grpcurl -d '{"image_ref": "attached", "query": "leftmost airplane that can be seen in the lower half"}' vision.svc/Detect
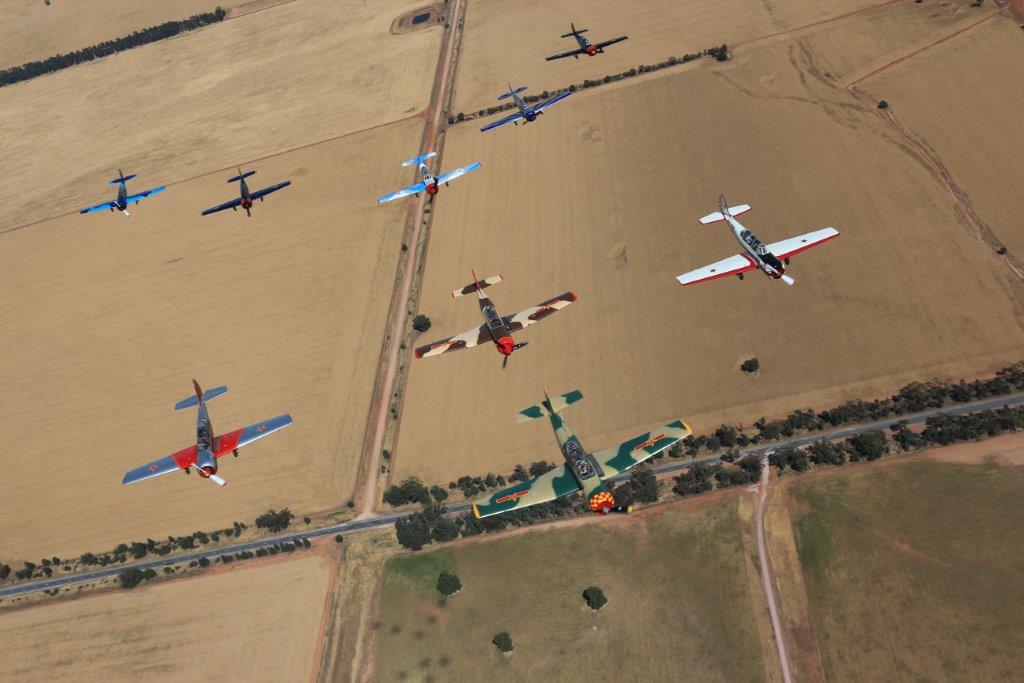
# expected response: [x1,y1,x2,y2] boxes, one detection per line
[121,376,291,485]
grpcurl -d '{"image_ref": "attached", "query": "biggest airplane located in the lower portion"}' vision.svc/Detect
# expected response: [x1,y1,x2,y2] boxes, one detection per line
[473,381,692,520]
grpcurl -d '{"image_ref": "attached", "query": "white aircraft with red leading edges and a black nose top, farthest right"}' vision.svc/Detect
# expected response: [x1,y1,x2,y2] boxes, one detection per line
[677,192,841,285]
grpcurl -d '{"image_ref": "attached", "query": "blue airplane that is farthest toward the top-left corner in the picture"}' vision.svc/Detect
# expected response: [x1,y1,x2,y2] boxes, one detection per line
[80,168,165,215]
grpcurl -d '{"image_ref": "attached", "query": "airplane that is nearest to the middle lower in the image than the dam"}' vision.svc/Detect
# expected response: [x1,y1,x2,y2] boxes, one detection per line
[415,268,577,370]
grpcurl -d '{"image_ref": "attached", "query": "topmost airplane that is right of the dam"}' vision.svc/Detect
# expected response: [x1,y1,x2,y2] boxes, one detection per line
[545,22,628,61]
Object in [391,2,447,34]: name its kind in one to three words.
dam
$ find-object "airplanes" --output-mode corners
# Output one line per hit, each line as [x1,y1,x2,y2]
[80,168,165,215]
[201,165,291,215]
[480,81,571,131]
[121,376,291,485]
[545,22,628,61]
[473,381,692,520]
[415,268,577,370]
[677,192,841,285]
[378,148,480,202]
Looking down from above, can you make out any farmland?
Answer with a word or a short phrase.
Yes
